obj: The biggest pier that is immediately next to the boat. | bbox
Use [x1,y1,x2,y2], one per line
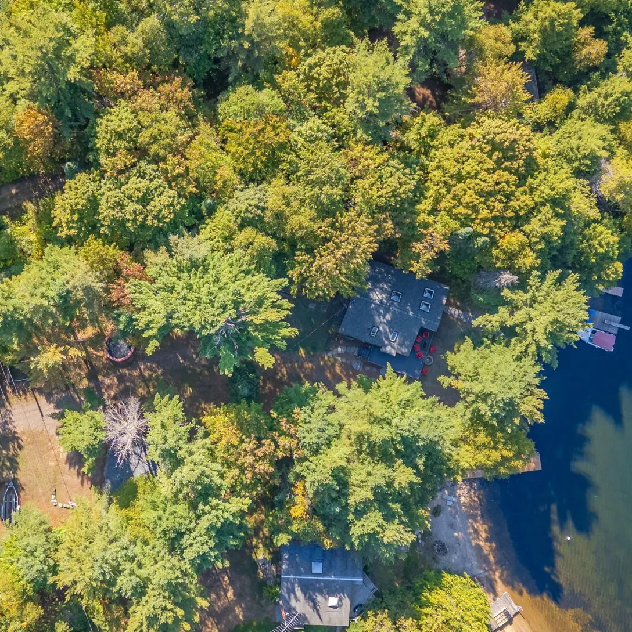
[576,306,622,333]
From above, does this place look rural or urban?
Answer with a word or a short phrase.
rural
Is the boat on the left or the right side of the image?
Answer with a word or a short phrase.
right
